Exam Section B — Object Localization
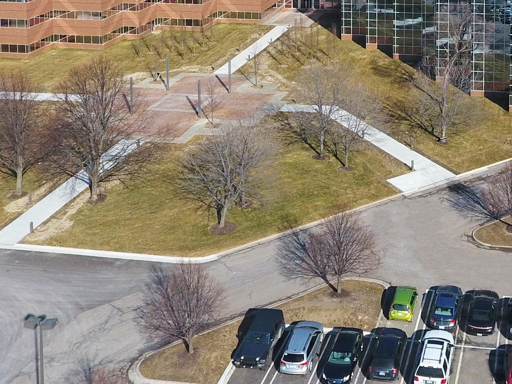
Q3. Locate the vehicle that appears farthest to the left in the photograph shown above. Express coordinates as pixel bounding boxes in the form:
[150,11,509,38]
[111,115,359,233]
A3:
[238,311,291,379]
